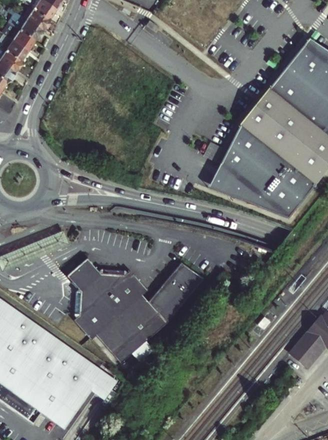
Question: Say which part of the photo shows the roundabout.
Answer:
left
